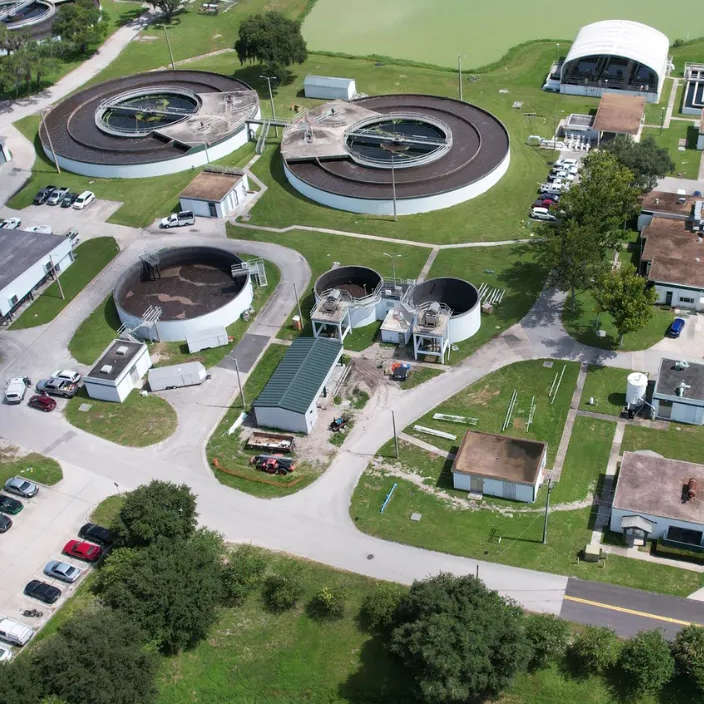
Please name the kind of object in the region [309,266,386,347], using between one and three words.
storage tank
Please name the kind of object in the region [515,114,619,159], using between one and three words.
house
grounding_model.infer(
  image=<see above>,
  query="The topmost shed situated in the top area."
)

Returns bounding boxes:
[303,76,352,100]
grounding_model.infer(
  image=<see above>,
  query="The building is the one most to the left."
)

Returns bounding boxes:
[0,228,73,315]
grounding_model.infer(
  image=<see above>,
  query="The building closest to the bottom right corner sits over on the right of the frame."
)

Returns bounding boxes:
[611,450,704,552]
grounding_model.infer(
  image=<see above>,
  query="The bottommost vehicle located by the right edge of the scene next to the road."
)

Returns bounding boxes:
[665,311,687,337]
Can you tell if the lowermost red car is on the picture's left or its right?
left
